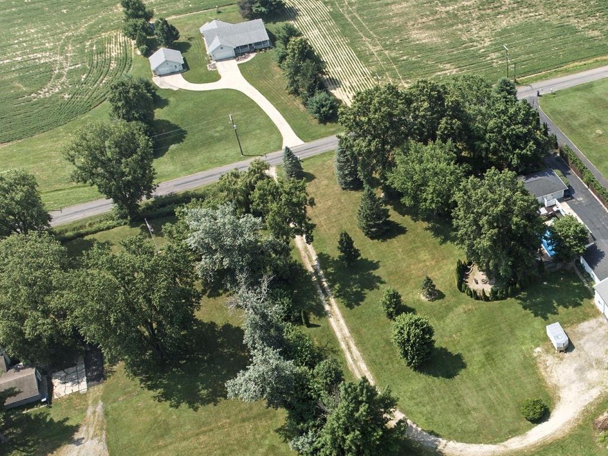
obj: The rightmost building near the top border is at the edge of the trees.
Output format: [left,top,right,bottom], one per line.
[198,7,272,60]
